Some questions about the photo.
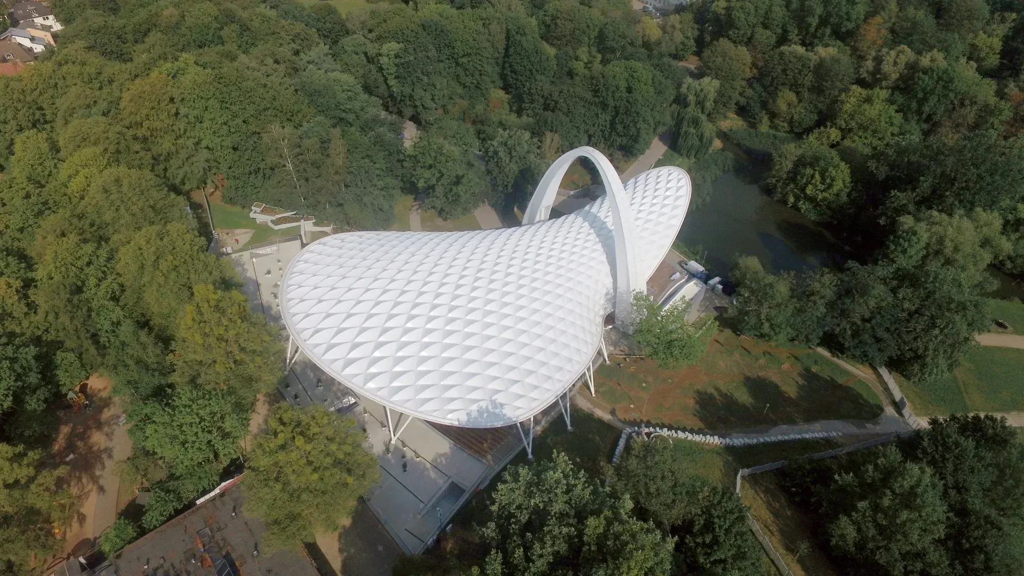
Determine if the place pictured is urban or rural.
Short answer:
rural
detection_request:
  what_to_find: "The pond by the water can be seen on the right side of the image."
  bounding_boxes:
[679,125,926,296]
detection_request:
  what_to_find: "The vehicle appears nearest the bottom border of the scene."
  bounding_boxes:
[681,261,708,279]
